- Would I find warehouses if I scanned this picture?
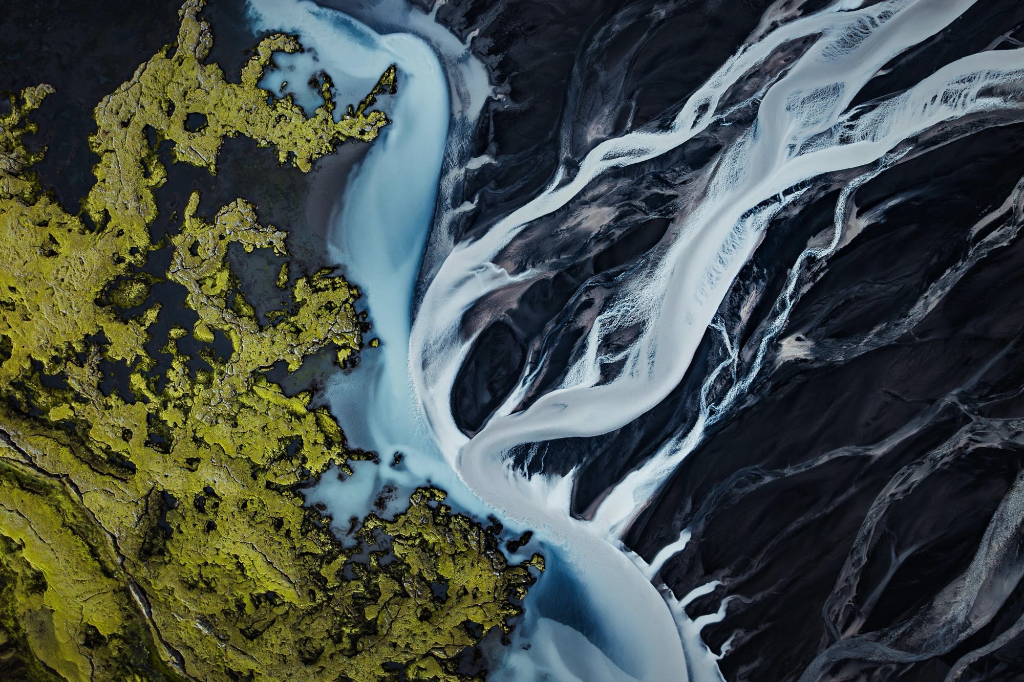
No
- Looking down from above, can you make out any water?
Yes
